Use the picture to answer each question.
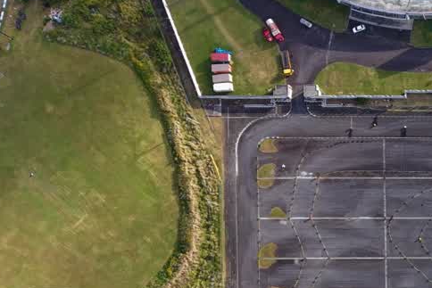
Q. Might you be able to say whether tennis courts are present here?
No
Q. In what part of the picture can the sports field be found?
left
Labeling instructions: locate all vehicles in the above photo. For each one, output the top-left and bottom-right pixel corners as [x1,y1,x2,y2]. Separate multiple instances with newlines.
[267,20,286,45]
[261,28,272,41]
[353,25,365,32]
[212,65,232,74]
[212,54,231,63]
[213,83,234,93]
[214,48,231,55]
[300,18,311,28]
[281,52,292,77]
[213,75,233,84]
